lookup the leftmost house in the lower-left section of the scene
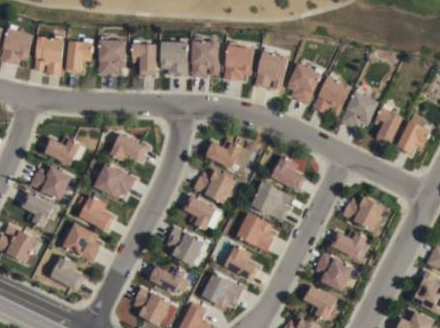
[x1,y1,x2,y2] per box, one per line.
[0,223,39,264]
